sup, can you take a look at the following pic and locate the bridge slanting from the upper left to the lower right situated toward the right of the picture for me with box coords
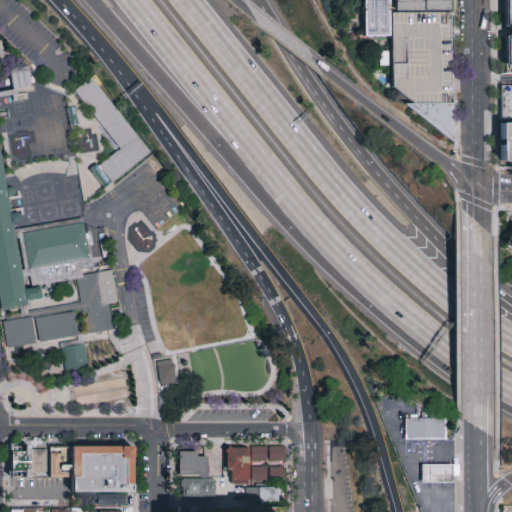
[228,0,457,190]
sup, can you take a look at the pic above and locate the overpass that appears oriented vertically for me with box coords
[457,193,500,440]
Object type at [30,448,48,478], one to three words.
house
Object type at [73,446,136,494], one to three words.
building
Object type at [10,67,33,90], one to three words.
shed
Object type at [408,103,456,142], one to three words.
building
